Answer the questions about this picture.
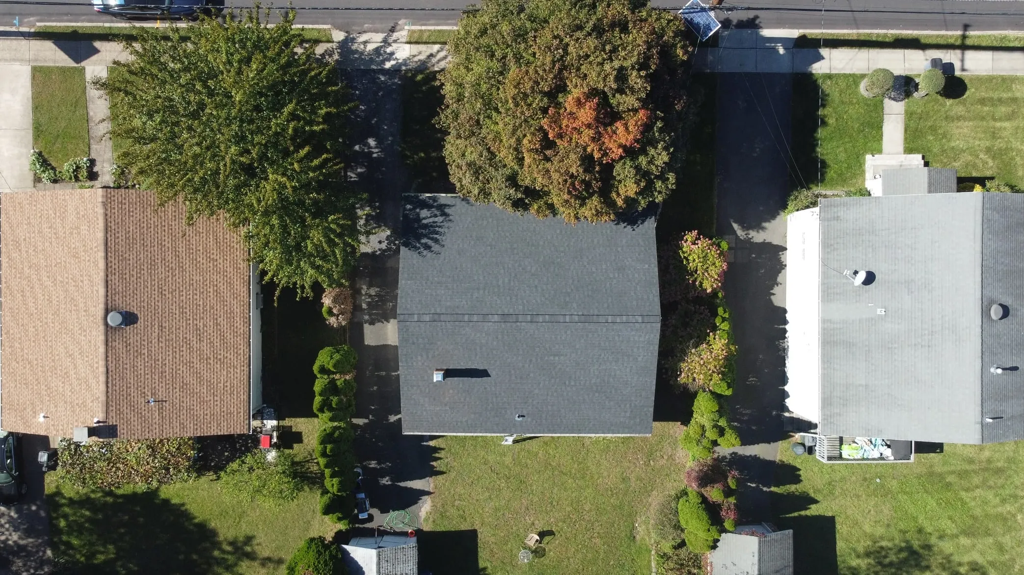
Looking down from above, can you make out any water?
No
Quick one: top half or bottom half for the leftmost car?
bottom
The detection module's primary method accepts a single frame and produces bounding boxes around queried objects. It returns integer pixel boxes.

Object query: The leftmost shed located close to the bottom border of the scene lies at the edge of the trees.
[341,531,421,575]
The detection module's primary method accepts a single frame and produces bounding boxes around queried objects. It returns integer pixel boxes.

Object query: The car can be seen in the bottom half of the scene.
[0,432,37,506]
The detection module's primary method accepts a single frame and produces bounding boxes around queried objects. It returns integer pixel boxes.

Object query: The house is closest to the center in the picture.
[396,192,662,444]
